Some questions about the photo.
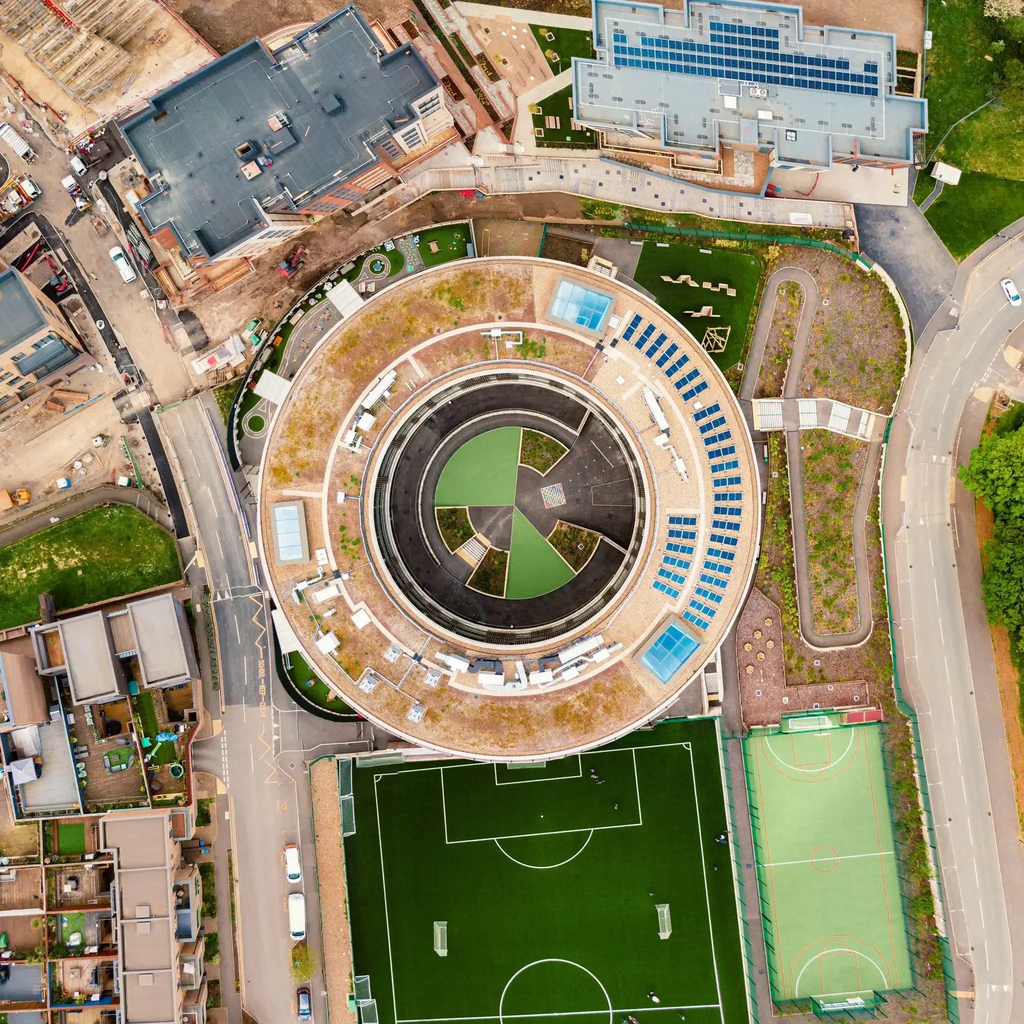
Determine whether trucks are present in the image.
Yes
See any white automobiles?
Yes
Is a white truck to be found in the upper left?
Yes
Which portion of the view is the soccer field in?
bottom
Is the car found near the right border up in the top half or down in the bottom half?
top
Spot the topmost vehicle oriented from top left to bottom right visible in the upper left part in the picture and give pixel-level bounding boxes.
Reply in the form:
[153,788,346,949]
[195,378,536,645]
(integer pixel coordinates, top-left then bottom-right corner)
[0,115,39,172]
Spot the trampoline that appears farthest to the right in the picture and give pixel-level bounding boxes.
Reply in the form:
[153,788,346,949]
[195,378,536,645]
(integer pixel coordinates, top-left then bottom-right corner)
[106,718,124,735]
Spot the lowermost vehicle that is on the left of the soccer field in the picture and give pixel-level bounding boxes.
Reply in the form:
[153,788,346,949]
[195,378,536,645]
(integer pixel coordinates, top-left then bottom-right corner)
[294,985,313,1021]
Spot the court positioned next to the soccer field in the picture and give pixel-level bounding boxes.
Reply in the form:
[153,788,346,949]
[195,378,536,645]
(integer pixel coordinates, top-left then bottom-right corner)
[744,714,913,999]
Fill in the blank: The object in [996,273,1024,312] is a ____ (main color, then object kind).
white car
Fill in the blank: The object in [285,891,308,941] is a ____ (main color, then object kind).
white vehicle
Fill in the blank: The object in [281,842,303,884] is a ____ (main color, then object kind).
white vehicle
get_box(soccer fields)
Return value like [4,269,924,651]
[344,718,749,1024]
